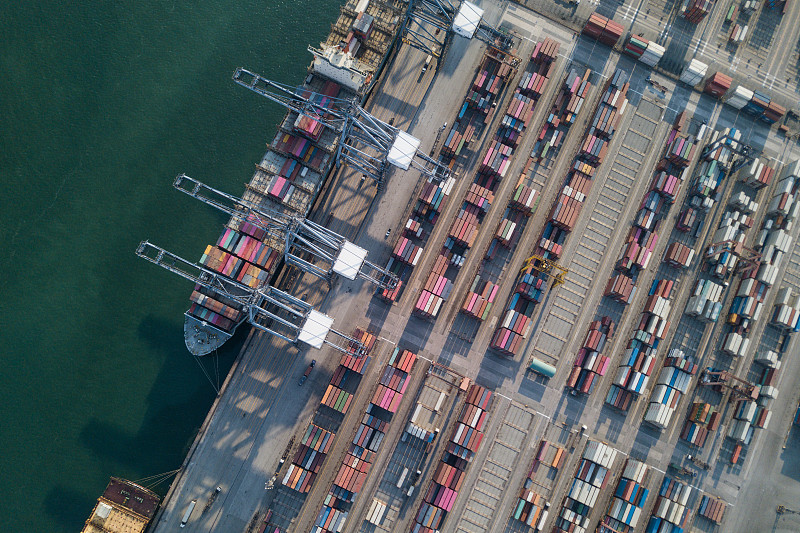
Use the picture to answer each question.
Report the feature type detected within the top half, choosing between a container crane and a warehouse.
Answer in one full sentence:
What appears within the top half is a container crane.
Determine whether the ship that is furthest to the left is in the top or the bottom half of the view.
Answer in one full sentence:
You can find the ship that is furthest to the left in the bottom half.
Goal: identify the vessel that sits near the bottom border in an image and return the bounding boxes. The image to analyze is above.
[80,474,166,533]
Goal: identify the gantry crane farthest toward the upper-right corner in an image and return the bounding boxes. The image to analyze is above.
[698,134,758,175]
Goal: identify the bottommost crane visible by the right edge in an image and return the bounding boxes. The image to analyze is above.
[696,370,761,399]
